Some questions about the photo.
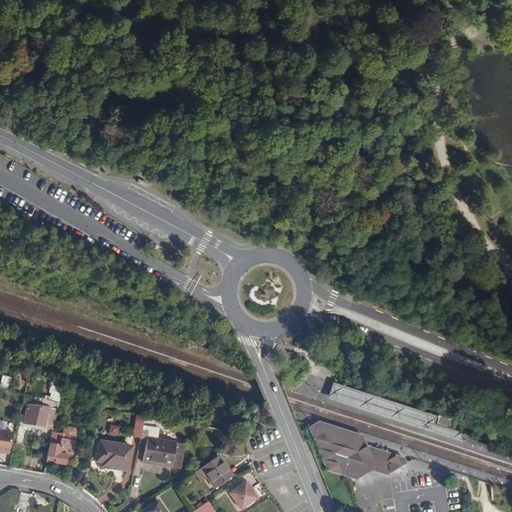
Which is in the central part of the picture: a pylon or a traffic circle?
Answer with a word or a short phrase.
traffic circle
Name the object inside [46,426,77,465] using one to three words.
house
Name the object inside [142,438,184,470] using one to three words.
house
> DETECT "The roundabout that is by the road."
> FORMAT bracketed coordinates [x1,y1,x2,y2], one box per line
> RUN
[221,248,312,338]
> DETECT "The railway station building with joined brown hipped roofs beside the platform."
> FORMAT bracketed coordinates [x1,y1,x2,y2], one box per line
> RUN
[310,421,406,480]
